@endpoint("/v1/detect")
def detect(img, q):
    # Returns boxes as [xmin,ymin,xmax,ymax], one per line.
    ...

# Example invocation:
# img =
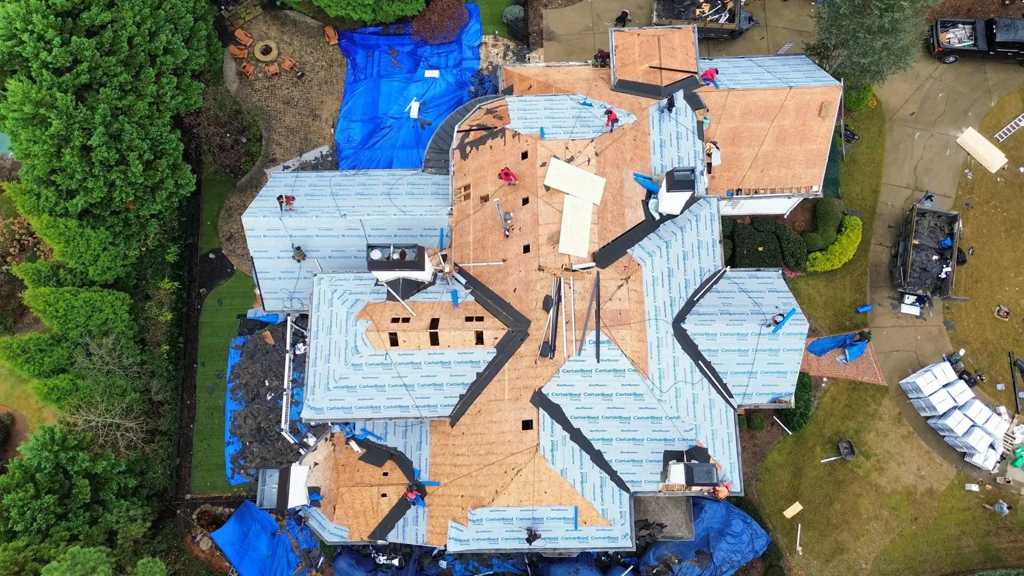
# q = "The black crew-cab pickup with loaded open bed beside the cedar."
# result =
[926,14,1024,63]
